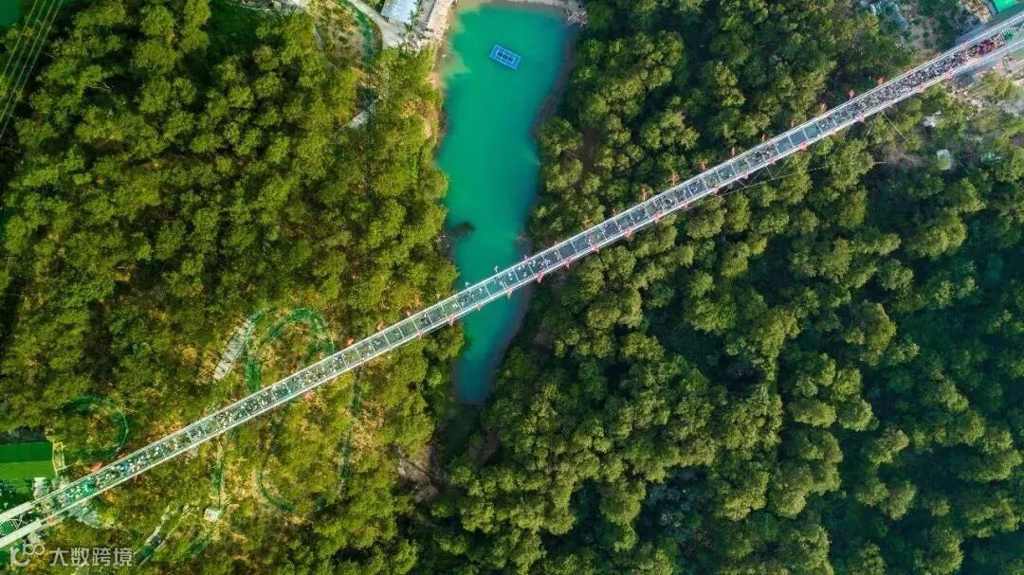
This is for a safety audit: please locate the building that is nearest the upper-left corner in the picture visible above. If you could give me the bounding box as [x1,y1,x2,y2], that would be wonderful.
[382,0,421,34]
